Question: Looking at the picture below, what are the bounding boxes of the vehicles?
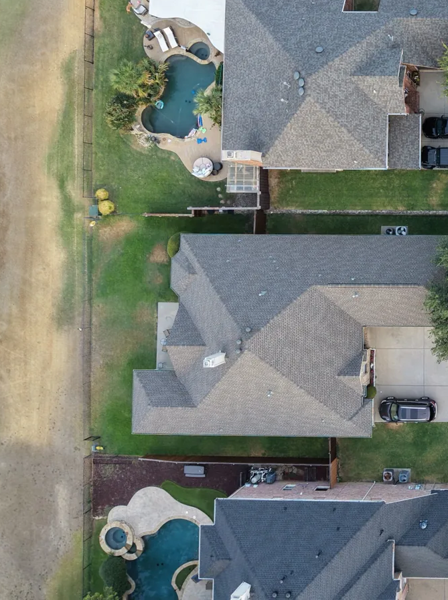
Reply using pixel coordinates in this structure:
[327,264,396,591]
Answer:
[422,144,448,170]
[379,395,438,424]
[423,114,448,141]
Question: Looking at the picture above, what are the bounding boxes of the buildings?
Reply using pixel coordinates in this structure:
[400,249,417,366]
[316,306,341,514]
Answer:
[198,481,448,600]
[222,0,448,170]
[131,233,448,438]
